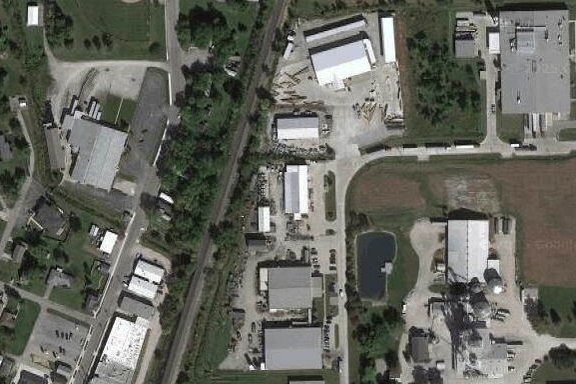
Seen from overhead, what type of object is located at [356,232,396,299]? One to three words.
pond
